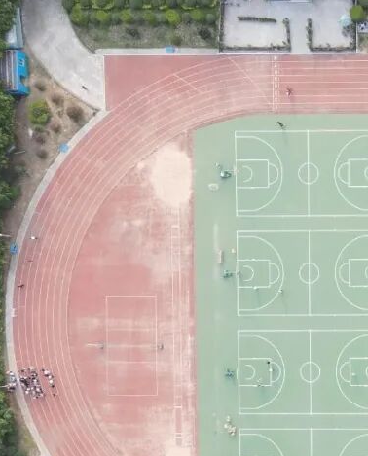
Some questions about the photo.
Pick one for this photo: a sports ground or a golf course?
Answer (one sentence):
It's a sports ground.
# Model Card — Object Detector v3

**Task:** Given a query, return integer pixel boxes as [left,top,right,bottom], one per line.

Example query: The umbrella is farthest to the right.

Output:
[338,12,352,27]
